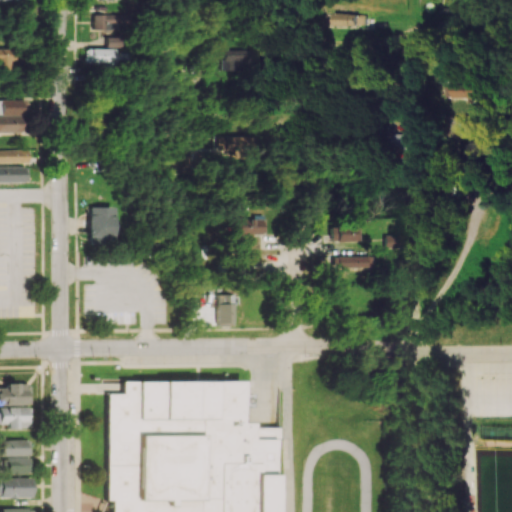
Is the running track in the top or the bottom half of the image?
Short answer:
bottom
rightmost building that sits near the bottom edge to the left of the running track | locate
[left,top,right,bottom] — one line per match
[108,381,286,512]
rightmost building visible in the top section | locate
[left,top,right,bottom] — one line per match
[445,90,472,103]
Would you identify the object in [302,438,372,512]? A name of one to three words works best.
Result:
running track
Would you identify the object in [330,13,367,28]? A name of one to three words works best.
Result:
house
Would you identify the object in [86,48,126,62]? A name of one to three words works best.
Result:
house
